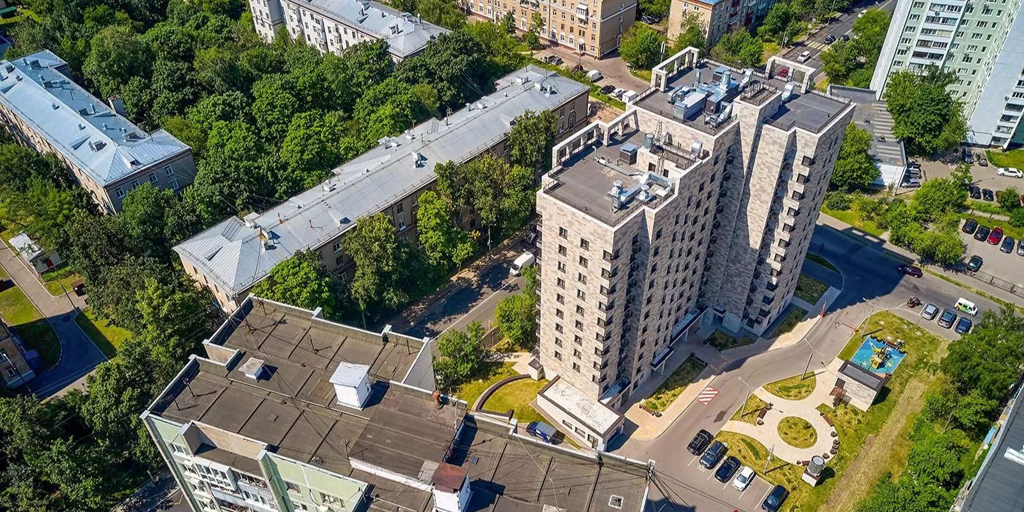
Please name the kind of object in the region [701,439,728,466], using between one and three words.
car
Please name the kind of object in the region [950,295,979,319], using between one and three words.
vehicle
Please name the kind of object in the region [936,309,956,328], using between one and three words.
car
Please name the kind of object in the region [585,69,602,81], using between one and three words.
vehicle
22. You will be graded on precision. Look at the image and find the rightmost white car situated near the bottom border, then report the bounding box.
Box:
[733,465,757,490]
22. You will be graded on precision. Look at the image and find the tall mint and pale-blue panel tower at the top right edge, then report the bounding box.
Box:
[870,0,1024,148]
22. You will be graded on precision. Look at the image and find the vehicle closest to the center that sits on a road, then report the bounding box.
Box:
[510,247,533,274]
